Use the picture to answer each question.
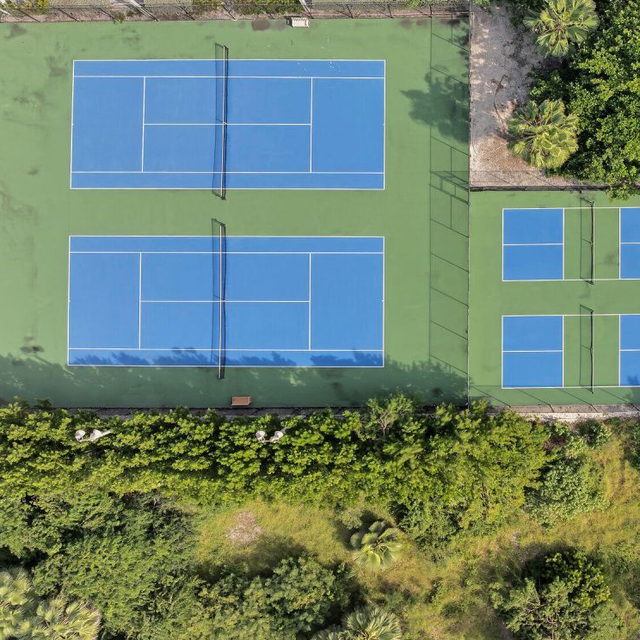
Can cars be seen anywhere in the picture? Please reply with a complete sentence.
No, there appears to be no car in this shot.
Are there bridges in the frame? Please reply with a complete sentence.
No, no bridge is visible in the view.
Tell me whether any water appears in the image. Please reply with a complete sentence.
No, the scene doesn't show any water.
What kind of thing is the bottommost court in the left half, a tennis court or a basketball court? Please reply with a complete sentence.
The bottommost court in the left half is a tennis court.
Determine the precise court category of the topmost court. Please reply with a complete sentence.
It turns out the topmost court is a tennis court.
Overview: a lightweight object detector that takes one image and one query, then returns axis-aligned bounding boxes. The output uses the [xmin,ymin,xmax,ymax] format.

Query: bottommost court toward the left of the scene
[67,236,384,367]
